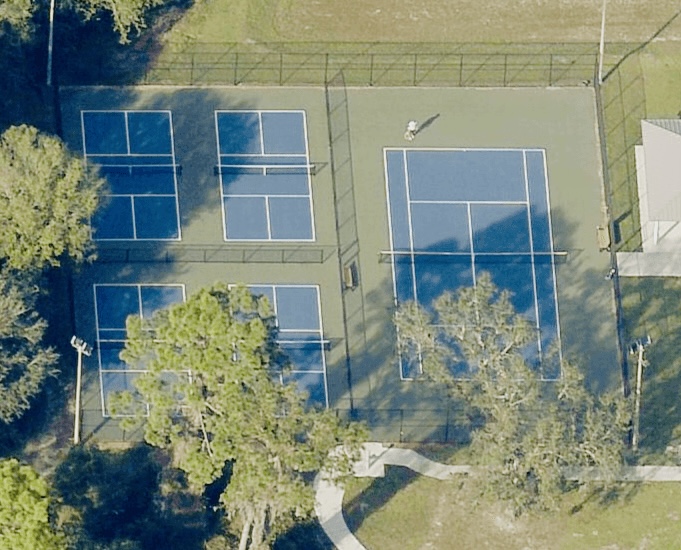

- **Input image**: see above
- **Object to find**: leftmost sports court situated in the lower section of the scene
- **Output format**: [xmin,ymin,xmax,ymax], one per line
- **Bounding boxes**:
[94,285,194,416]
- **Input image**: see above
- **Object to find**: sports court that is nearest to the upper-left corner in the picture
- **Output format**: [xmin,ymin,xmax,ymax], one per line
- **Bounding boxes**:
[82,110,180,239]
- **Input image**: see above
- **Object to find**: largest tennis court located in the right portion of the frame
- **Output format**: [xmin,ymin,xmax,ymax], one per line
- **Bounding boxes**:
[384,149,564,379]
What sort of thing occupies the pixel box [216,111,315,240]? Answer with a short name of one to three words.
sports court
